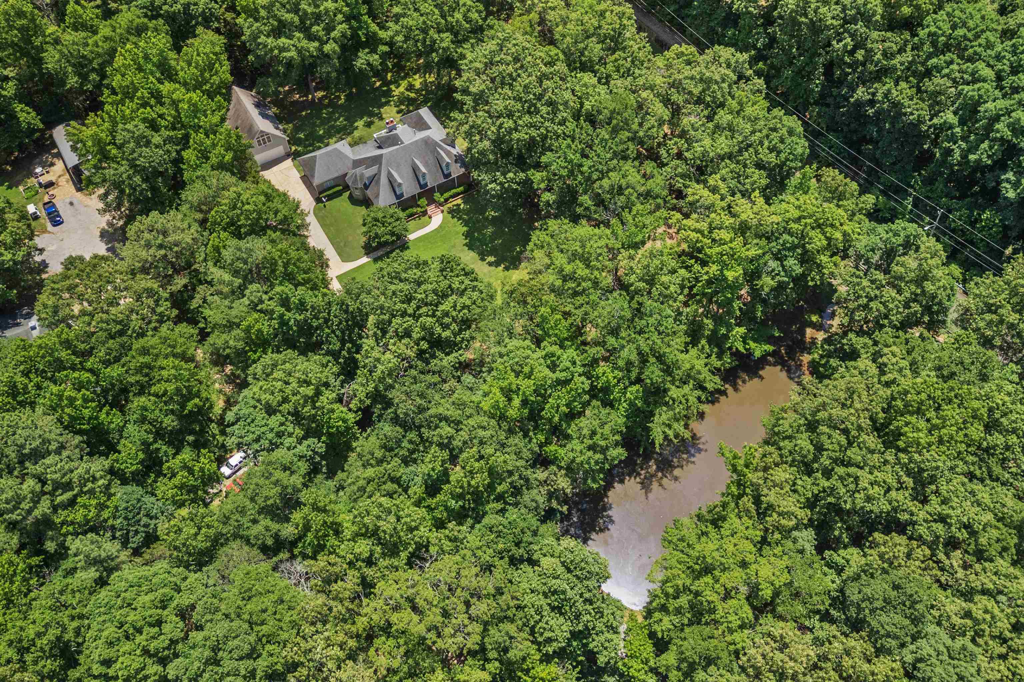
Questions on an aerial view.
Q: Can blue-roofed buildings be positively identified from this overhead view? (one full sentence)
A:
No, no blue-roofed building is visible in the scene.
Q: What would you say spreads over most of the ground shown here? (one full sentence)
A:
The bulk of the photo consists of trees.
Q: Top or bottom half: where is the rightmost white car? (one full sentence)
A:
The bottom half of the photo is where the rightmost white car is.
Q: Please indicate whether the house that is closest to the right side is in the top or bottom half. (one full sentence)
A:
The top half of the photo is where the house that is closest to the right side is.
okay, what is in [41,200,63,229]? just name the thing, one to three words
truck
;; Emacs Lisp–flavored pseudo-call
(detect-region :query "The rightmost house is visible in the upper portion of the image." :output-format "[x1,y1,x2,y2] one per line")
[296,106,471,220]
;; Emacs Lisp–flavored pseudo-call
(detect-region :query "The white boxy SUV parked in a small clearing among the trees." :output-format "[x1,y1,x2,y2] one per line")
[219,450,249,479]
